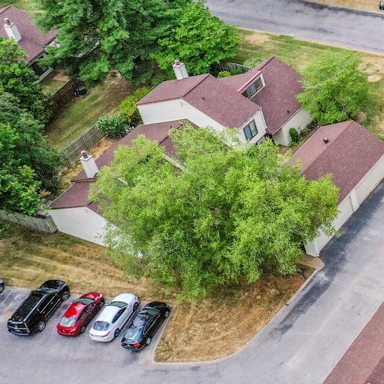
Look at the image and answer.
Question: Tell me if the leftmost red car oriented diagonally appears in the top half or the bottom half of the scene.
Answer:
bottom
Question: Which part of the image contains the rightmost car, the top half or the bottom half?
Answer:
bottom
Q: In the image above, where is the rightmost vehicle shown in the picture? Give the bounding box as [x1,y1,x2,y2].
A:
[118,303,169,351]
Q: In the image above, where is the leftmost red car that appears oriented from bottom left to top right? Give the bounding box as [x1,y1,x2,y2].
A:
[54,295,105,339]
